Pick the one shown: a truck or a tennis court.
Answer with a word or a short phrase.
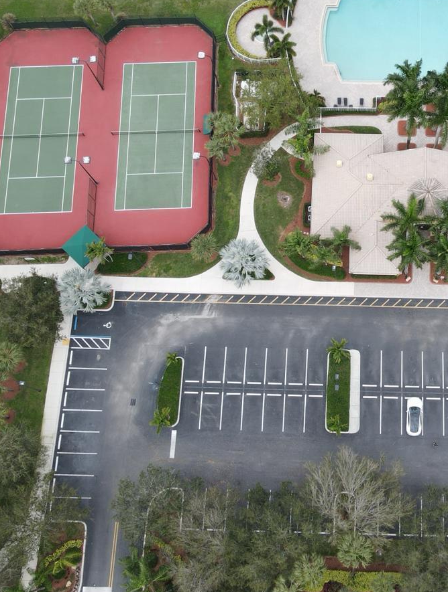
tennis court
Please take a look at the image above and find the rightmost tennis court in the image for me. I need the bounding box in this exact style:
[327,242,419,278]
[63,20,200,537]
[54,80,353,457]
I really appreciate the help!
[94,26,215,249]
